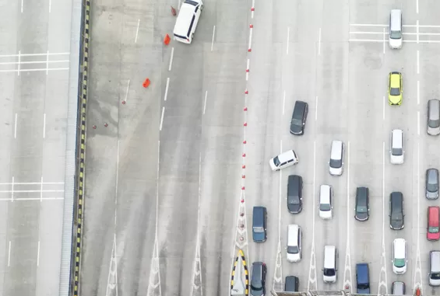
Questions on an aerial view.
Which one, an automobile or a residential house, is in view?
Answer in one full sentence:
The one in the frame is an automobile.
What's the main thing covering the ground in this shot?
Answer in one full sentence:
Most of the picture is covered by paved ground.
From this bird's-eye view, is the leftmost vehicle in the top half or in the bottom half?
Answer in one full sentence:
You can find the leftmost vehicle in the top half.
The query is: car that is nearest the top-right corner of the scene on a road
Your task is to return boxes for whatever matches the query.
[388,10,404,49]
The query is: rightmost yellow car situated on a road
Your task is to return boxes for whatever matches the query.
[388,72,404,105]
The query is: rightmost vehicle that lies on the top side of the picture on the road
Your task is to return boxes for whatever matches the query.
[425,100,440,135]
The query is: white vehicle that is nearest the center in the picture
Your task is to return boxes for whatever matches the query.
[270,150,299,171]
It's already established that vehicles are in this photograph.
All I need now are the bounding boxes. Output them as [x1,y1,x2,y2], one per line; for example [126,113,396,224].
[354,188,371,221]
[424,168,440,200]
[249,262,267,296]
[427,251,440,286]
[173,0,202,45]
[270,150,299,171]
[284,277,299,295]
[388,10,404,49]
[287,176,304,214]
[322,246,338,283]
[354,264,371,296]
[389,193,406,230]
[391,240,408,275]
[425,100,440,135]
[284,226,302,263]
[391,282,405,295]
[388,72,404,105]
[389,130,406,164]
[290,101,309,135]
[250,207,268,243]
[317,185,333,219]
[425,207,440,242]
[327,141,344,176]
